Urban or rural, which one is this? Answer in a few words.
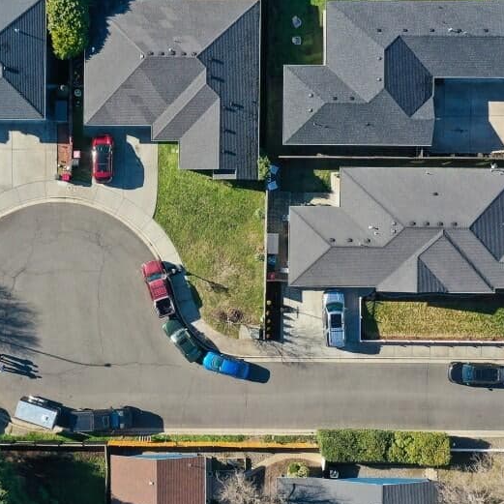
urban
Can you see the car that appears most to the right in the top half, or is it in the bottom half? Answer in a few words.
bottom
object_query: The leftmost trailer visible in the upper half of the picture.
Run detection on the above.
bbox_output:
[57,124,73,181]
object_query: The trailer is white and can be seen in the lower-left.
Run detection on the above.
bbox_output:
[13,394,69,428]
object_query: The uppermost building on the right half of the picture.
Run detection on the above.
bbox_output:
[282,0,504,147]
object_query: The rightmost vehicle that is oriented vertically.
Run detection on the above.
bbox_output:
[323,291,347,347]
